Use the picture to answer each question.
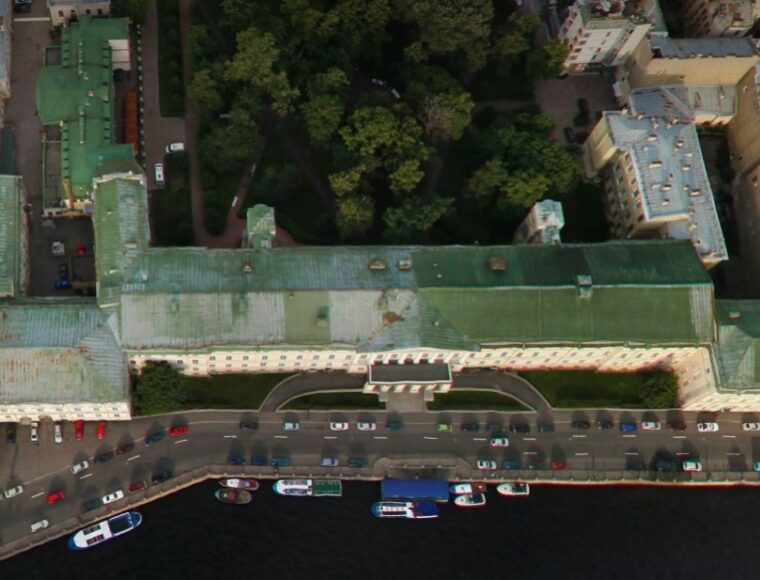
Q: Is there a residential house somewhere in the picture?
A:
Yes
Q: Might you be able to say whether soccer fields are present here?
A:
No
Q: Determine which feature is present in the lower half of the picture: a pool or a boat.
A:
boat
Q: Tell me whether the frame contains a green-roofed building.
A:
Yes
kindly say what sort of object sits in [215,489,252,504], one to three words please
boat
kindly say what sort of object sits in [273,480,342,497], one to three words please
boat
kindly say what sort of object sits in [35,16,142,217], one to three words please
house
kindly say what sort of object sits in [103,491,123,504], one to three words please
vehicle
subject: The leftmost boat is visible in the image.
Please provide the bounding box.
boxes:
[70,513,142,550]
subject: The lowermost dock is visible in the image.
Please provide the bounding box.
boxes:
[377,479,450,505]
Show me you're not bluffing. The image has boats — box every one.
[215,489,252,504]
[496,484,530,495]
[450,484,485,495]
[70,513,142,550]
[273,480,342,497]
[370,502,438,519]
[219,480,259,491]
[453,494,487,506]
